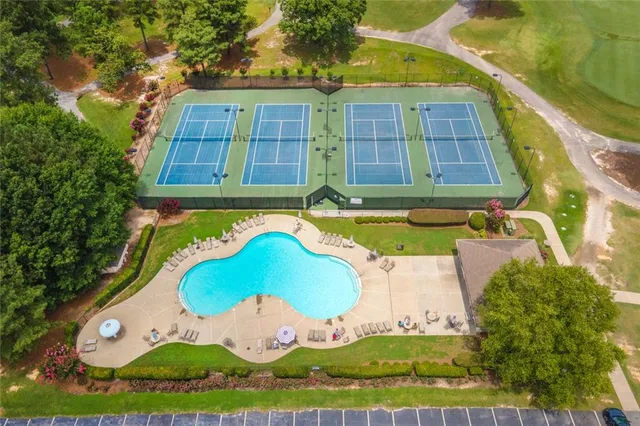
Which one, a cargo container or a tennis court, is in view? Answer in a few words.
tennis court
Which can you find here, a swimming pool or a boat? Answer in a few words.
swimming pool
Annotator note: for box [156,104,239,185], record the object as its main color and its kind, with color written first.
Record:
blue tennis court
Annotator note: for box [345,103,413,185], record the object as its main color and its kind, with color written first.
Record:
blue tennis court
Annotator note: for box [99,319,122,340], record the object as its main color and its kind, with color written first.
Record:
white umbrella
